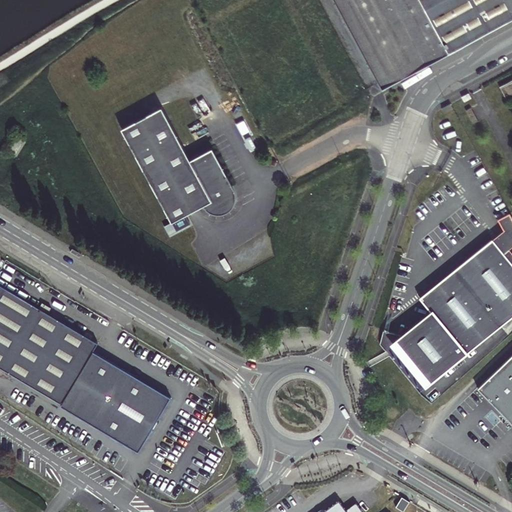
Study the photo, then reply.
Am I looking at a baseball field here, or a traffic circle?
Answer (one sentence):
This aerial view contains a traffic circle.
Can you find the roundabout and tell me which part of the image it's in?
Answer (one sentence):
The roundabout is located in the bottom region of the scene.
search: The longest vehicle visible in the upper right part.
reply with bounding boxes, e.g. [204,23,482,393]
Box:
[403,68,431,88]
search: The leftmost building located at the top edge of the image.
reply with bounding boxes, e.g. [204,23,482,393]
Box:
[335,0,448,90]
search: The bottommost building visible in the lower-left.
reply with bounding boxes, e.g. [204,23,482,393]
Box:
[61,354,170,452]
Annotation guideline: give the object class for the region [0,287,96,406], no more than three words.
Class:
building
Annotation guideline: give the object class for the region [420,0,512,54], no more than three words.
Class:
building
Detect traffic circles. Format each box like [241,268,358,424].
[248,353,355,464]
